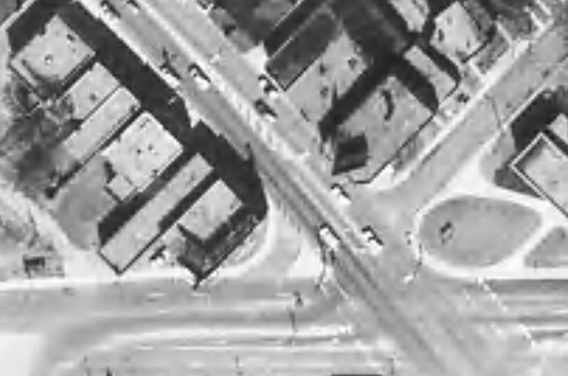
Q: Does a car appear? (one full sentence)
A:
Yes, this view includes a car.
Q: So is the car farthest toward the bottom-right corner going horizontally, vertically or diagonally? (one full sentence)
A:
The car farthest toward the bottom-right corner has been laid out diagonally relative to the frame.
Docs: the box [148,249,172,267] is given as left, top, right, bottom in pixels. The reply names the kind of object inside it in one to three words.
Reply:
car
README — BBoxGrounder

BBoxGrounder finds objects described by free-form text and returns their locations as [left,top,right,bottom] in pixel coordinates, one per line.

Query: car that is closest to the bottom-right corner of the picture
[362,227,384,249]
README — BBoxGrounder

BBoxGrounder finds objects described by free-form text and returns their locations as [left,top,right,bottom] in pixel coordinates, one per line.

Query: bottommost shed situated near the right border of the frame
[549,114,568,141]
